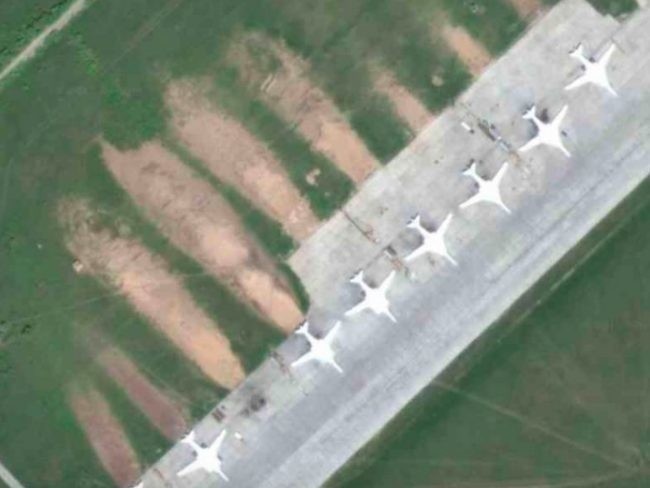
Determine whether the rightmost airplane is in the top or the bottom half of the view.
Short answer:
top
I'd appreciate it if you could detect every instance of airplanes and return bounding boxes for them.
[405,213,457,265]
[345,270,396,322]
[176,428,228,481]
[459,160,510,213]
[566,44,618,96]
[290,320,342,372]
[518,103,569,155]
